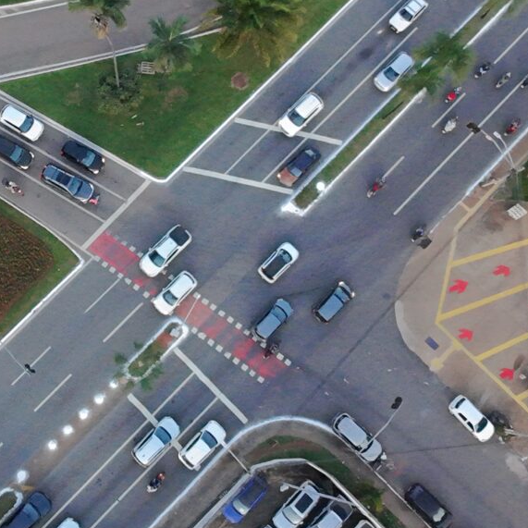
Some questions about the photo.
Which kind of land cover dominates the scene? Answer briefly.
paved ground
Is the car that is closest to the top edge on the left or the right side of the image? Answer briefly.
right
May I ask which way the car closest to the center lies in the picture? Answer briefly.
diagonally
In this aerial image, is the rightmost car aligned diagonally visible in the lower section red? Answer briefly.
No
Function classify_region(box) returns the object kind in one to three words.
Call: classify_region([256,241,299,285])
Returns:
car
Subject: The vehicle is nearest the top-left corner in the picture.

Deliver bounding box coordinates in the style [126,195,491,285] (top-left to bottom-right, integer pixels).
[0,104,44,141]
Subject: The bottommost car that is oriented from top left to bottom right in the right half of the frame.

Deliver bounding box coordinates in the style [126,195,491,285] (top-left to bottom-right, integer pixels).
[399,477,453,528]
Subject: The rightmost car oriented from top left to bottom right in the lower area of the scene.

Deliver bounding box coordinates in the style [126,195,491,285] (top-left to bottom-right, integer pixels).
[443,391,495,443]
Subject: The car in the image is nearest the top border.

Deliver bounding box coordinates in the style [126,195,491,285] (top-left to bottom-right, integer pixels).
[388,0,428,35]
